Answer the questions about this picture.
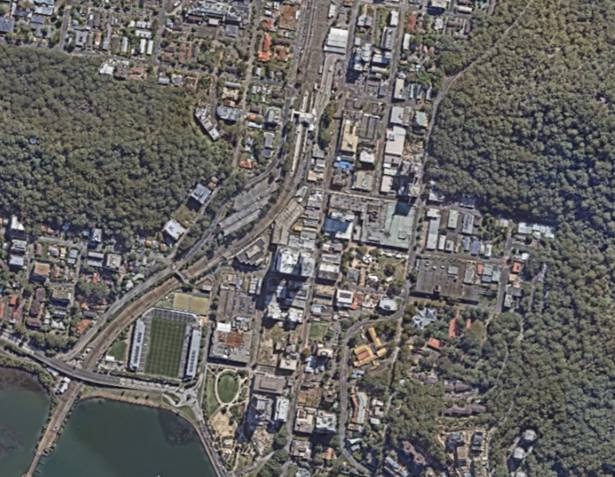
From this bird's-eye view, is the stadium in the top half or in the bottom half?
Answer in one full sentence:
You can find the stadium in the bottom half.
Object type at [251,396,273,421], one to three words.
building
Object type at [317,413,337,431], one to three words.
building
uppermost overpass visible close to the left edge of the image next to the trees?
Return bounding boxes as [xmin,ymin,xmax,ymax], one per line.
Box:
[0,333,187,400]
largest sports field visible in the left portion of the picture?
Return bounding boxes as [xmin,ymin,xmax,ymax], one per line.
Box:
[145,314,186,379]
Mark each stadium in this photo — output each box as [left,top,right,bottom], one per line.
[128,304,202,386]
